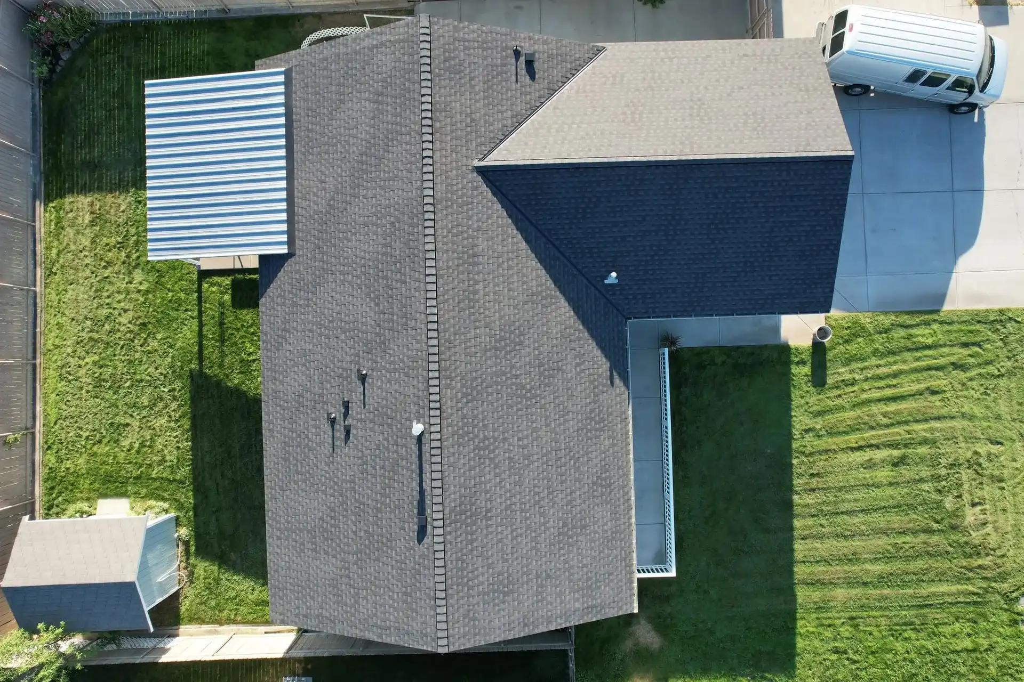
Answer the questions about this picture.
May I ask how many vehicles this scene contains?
1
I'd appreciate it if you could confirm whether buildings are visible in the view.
Yes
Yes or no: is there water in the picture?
No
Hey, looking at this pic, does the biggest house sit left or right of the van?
to its left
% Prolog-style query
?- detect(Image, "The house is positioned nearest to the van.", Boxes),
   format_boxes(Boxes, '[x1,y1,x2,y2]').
[253,15,858,655]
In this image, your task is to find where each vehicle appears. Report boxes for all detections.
[814,4,1008,115]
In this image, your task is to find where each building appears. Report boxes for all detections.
[2,511,179,637]
[253,15,858,655]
